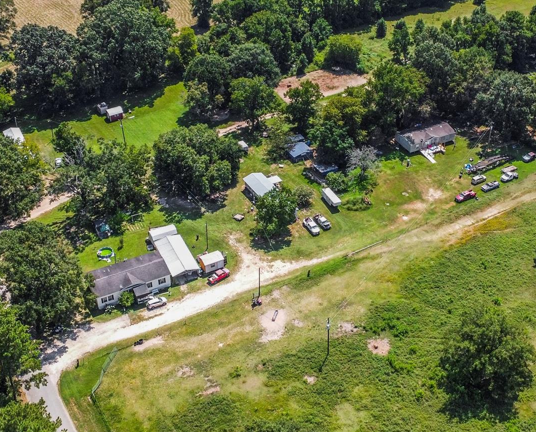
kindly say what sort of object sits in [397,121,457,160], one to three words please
house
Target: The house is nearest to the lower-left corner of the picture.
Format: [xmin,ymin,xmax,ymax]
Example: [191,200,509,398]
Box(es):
[88,256,171,309]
